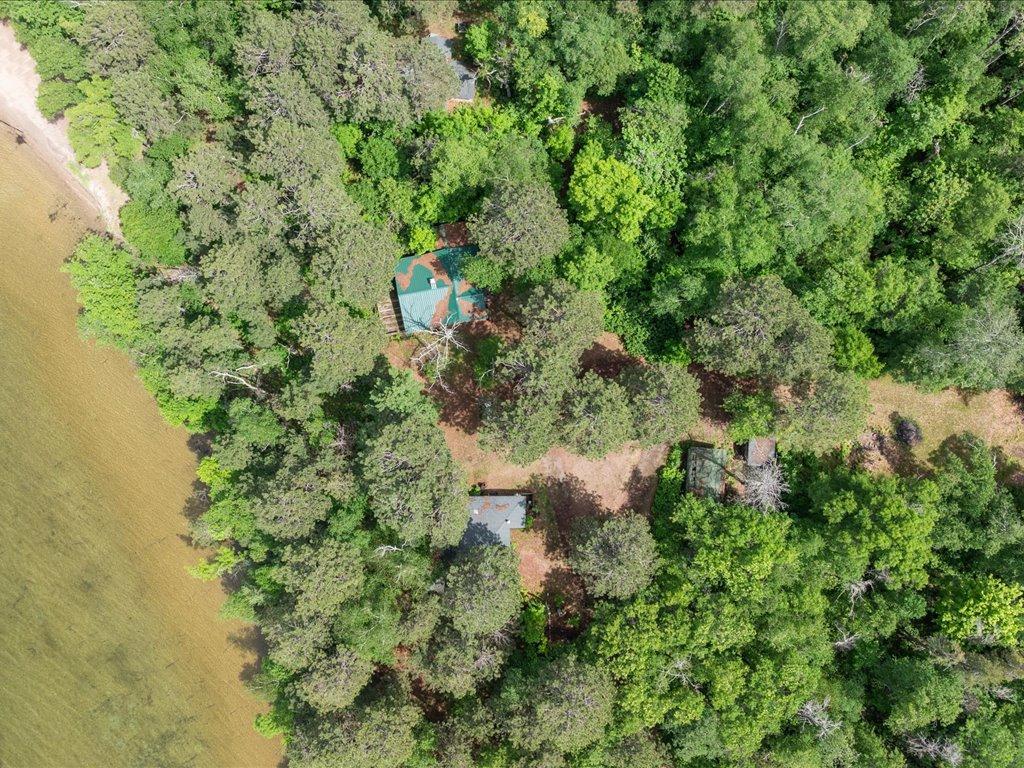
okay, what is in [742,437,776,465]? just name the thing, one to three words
shed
